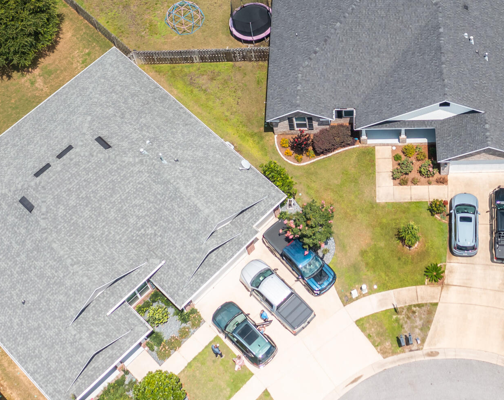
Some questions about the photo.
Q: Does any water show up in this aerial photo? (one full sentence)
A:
No, no water is visible.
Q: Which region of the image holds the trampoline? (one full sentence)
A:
The trampoline appears toward the top of the photo.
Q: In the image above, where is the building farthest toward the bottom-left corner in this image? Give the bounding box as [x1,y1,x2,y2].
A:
[0,45,286,400]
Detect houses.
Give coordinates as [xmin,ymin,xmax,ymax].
[0,45,286,400]
[266,0,504,174]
